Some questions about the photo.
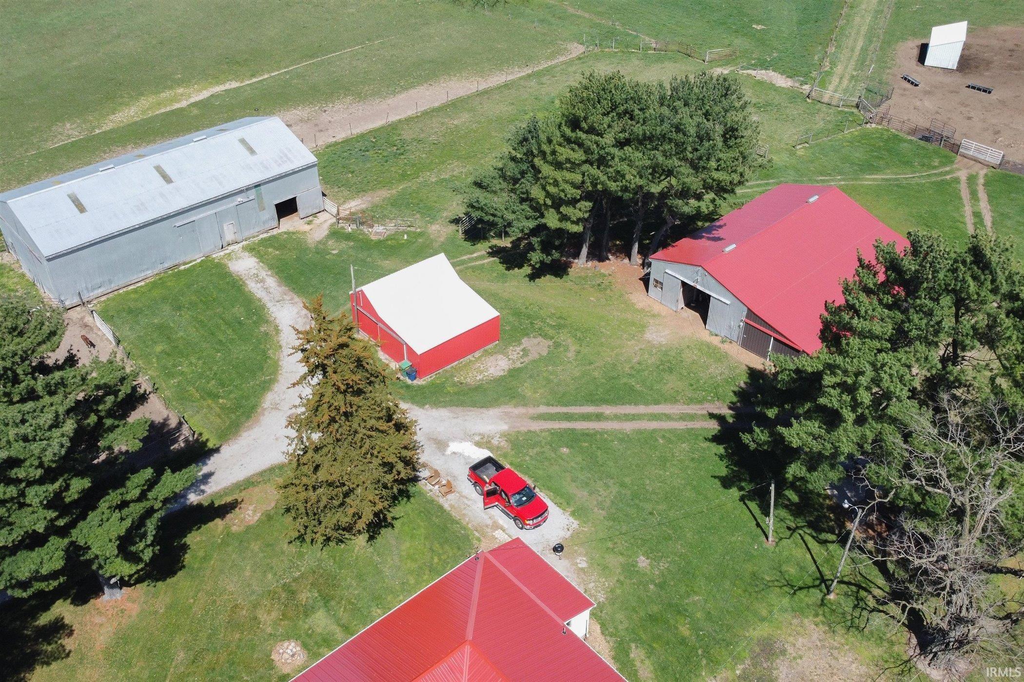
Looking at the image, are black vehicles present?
No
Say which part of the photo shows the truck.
bottom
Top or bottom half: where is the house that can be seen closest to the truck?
bottom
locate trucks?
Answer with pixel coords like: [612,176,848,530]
[468,457,555,535]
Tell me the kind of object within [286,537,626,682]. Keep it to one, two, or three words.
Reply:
house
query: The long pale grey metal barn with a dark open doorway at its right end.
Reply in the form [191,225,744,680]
[0,116,324,309]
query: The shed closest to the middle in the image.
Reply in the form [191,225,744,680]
[349,253,500,379]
